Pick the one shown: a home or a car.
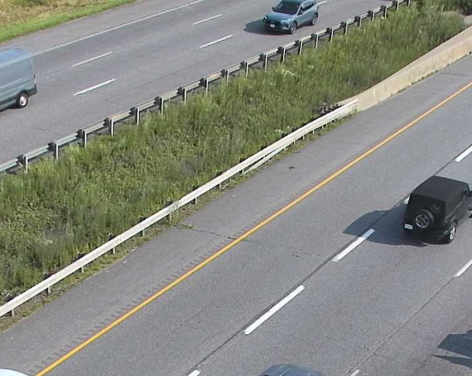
car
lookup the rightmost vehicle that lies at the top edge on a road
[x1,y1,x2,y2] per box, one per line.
[262,0,323,33]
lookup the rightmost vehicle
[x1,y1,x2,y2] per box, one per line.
[403,176,472,242]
